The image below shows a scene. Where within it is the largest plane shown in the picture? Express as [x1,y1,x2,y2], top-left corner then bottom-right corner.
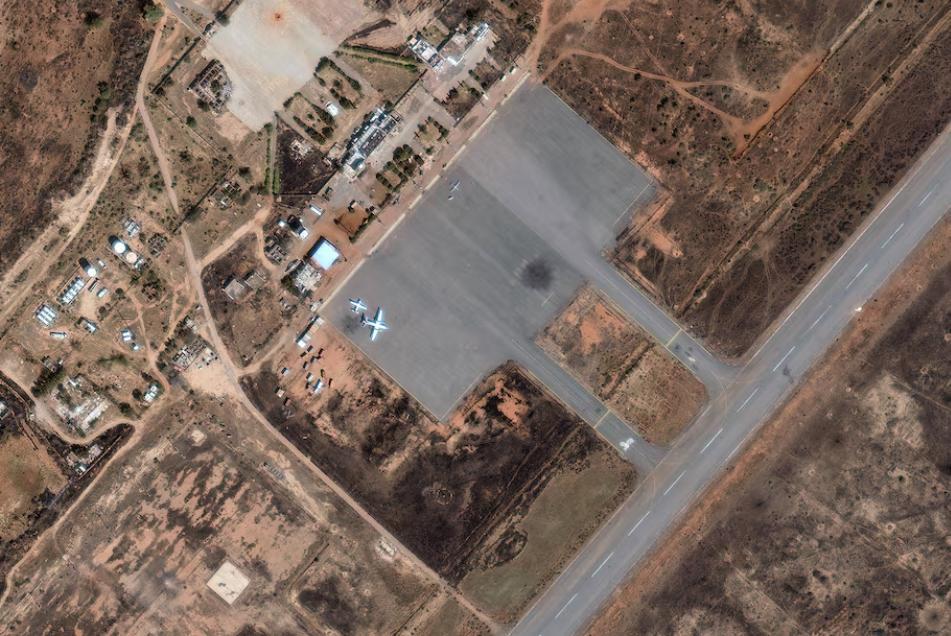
[362,310,388,339]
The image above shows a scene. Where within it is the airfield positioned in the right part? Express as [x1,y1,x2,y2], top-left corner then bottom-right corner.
[317,74,951,636]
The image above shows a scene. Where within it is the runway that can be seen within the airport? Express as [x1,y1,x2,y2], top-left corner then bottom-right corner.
[508,134,951,636]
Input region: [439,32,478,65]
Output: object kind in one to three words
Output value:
building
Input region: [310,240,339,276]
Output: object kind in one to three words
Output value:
hangar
